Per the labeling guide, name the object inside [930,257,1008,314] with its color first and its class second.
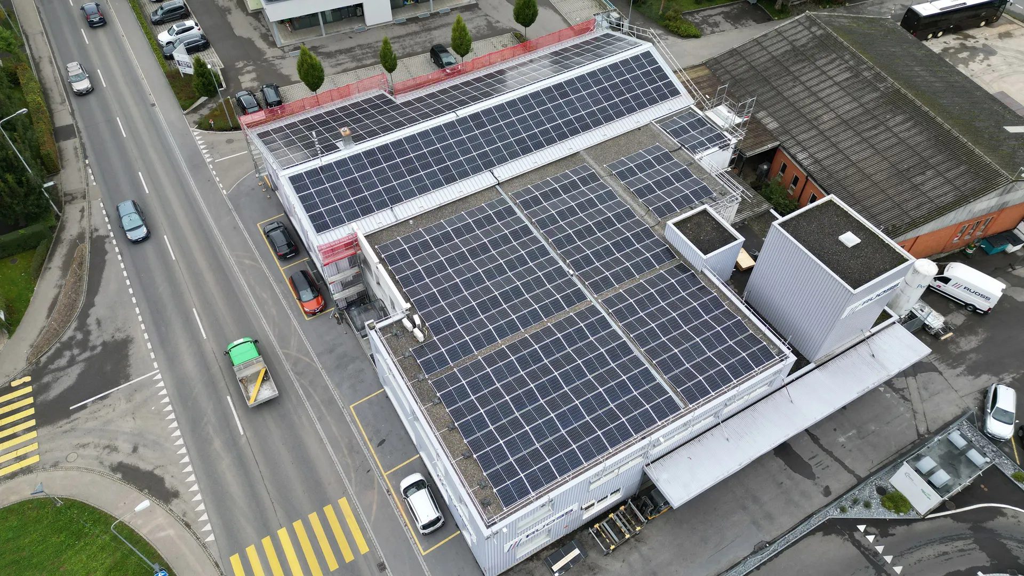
white van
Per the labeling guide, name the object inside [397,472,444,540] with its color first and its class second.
white car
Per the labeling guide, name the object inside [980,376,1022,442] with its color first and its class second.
white car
